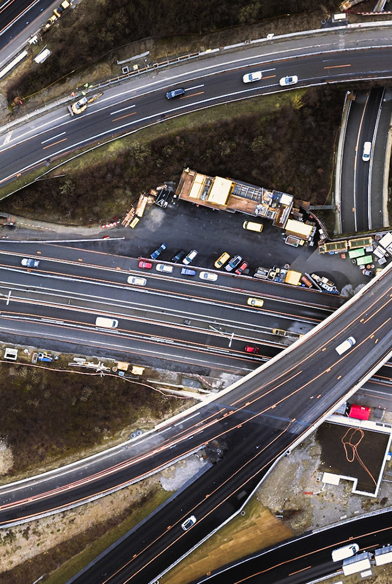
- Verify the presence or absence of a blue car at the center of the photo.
Yes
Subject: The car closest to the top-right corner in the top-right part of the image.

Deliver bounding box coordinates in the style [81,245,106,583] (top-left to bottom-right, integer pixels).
[278,74,298,87]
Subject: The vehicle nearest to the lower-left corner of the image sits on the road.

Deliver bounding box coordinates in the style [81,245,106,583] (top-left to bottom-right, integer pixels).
[181,515,197,532]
